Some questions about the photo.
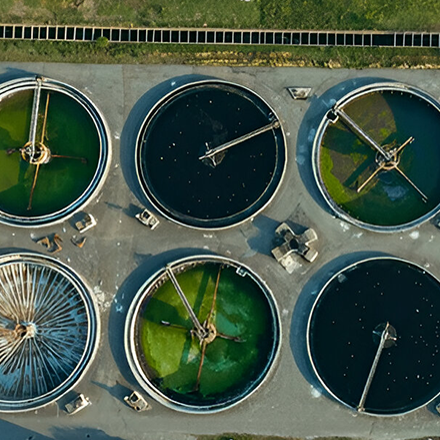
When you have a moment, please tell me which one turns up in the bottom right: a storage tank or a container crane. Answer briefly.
storage tank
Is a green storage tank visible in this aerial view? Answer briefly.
Yes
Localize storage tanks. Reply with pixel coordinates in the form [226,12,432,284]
[0,75,112,228]
[0,252,102,410]
[312,82,440,233]
[306,257,440,415]
[135,80,286,230]
[124,254,283,413]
